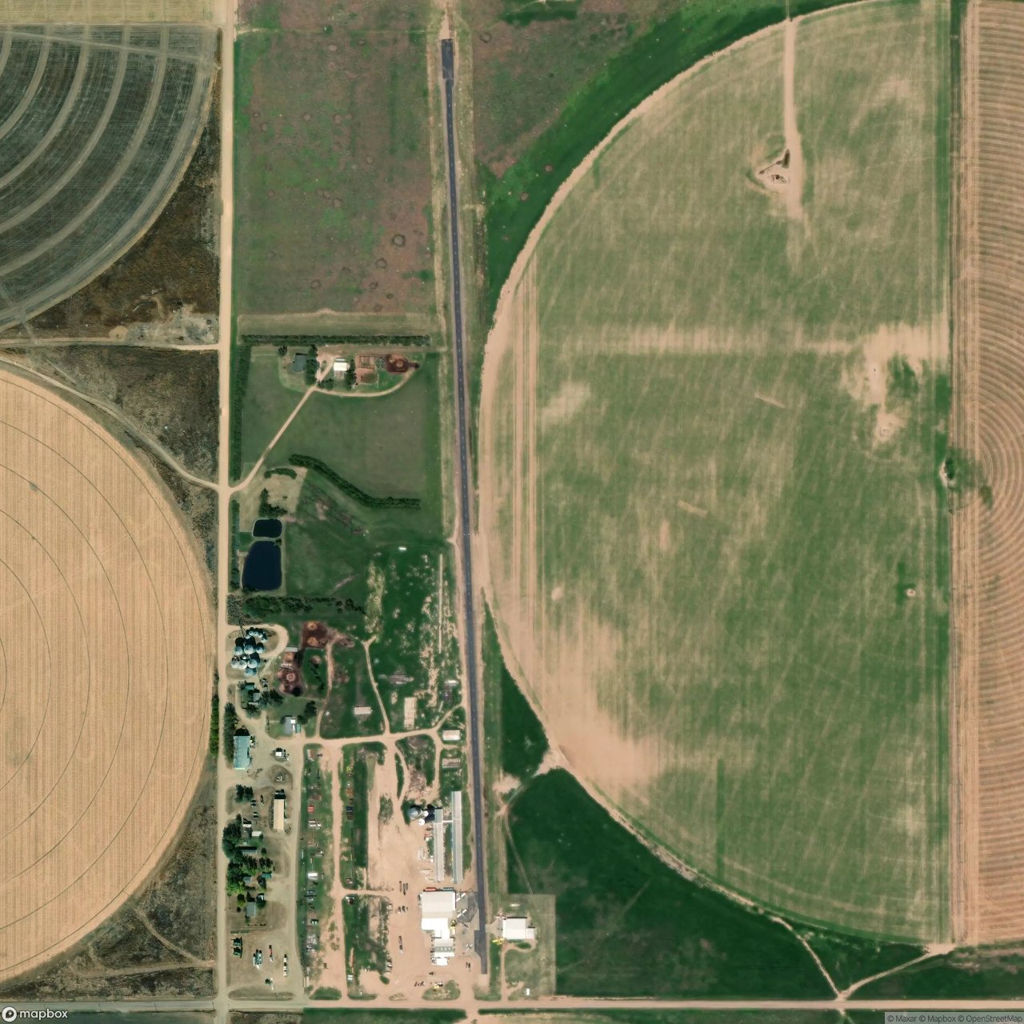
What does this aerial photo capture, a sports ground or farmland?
farmland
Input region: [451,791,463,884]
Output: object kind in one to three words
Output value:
house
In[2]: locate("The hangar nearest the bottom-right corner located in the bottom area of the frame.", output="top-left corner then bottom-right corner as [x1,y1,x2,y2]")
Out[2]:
[503,919,534,939]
